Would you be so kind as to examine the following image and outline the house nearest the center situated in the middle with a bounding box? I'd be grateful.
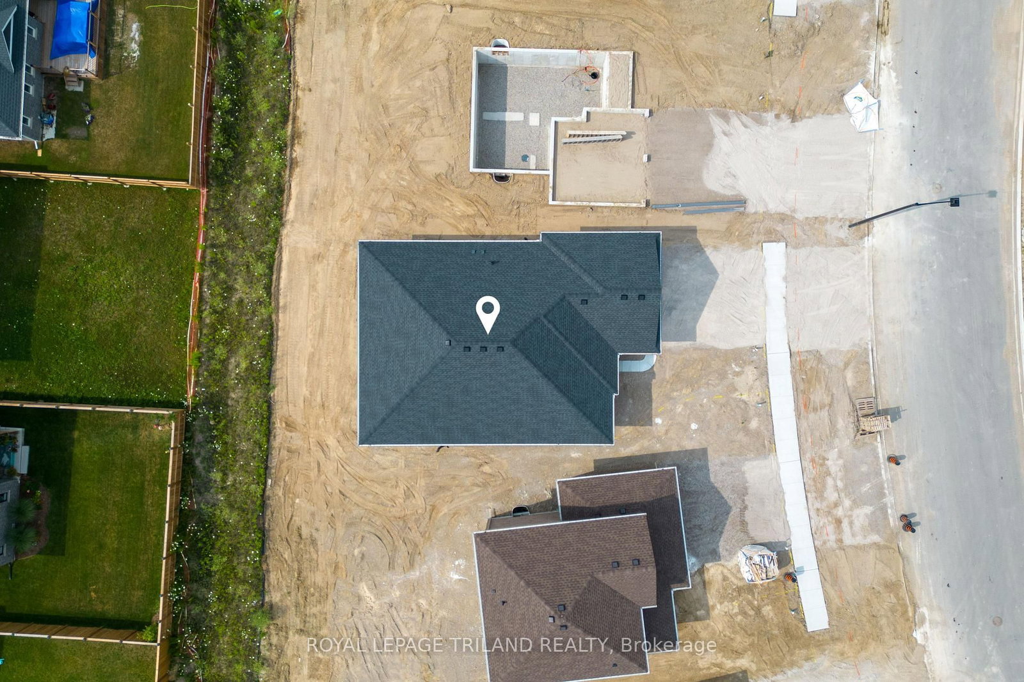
[357,230,663,452]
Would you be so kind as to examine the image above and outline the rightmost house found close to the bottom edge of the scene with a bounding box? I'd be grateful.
[472,465,692,682]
